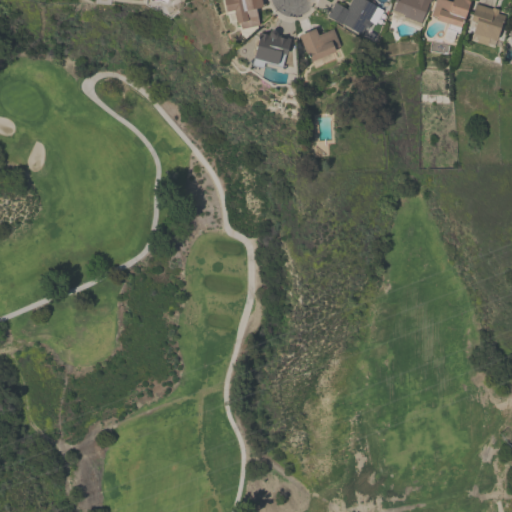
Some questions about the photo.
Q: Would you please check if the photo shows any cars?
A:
No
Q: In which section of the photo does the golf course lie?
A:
left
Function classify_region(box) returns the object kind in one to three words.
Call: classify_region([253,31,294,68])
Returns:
house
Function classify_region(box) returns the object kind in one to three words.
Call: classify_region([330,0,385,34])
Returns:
house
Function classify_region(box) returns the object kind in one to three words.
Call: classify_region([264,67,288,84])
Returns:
swimming pool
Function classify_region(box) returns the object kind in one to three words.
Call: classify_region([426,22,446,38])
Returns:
swimming pool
